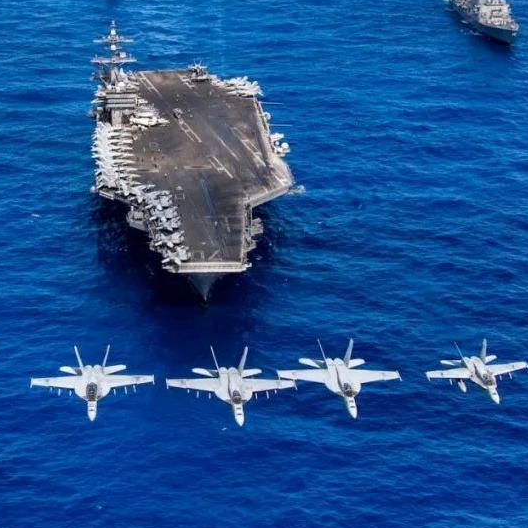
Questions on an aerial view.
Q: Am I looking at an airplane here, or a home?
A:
airplane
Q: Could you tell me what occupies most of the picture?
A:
water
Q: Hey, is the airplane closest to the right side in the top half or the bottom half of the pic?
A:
bottom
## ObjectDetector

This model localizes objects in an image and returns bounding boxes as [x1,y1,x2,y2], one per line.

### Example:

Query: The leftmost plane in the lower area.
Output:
[31,343,154,420]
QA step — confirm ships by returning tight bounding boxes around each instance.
[84,20,309,304]
[455,0,520,47]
